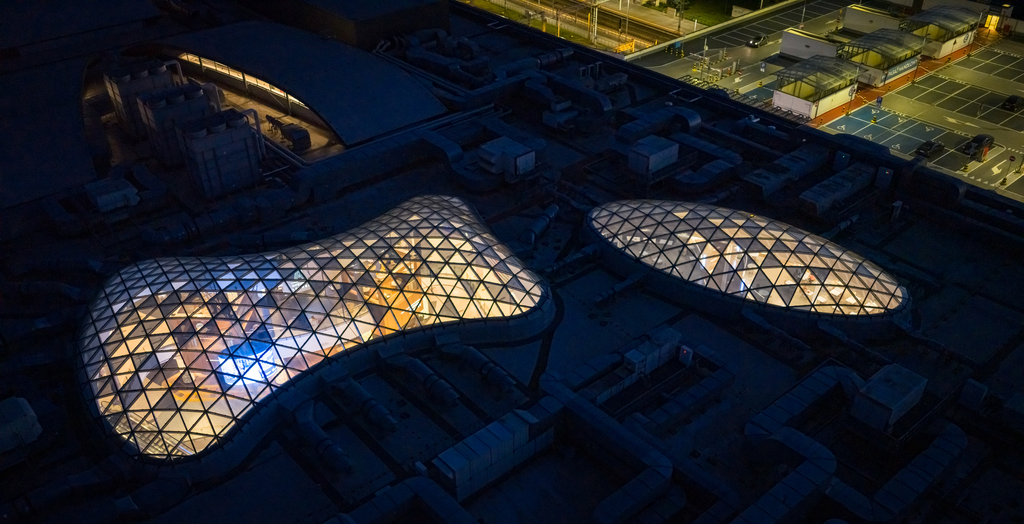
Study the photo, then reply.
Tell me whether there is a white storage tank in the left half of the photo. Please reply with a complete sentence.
No, no white storage tank is visible in the left half of the photo.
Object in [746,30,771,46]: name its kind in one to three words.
car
